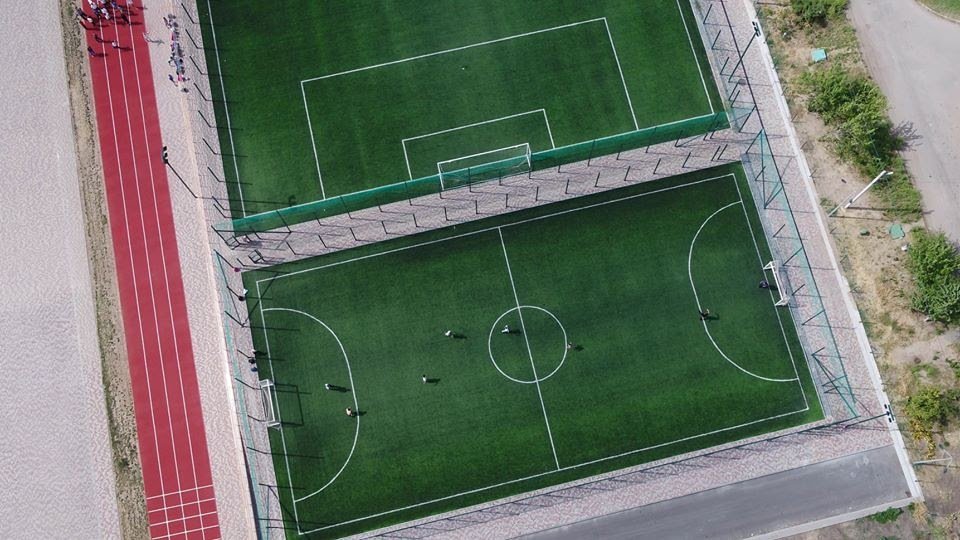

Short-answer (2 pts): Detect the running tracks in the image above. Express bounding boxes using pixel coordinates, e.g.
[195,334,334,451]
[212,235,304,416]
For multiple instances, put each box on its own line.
[79,0,222,540]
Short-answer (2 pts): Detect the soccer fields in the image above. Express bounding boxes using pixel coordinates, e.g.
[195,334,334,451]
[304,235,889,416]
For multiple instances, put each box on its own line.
[241,160,827,540]
[194,0,731,237]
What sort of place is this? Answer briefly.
sports ground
